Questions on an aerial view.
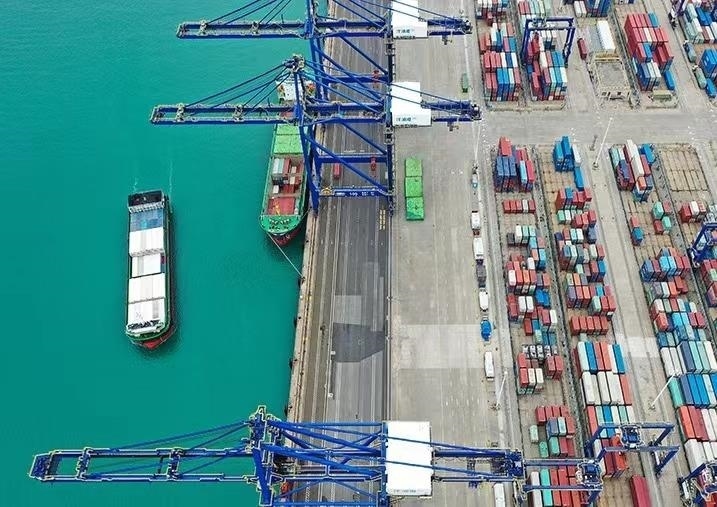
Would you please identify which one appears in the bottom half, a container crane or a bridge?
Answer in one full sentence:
It is a container crane that can be seen in the bottom half.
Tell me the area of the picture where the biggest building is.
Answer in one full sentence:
The biggest building is located in the top right region of the scene.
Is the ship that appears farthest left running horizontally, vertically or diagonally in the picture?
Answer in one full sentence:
The ship that appears farthest left is laid out vertically.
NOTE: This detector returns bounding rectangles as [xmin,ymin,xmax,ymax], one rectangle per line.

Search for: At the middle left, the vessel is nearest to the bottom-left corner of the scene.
[127,189,177,352]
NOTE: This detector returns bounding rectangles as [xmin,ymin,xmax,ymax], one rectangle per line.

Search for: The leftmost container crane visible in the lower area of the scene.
[20,409,521,507]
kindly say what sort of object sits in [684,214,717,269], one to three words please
container crane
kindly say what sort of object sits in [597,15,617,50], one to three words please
shed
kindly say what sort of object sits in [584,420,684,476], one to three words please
container crane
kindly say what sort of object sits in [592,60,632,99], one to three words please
building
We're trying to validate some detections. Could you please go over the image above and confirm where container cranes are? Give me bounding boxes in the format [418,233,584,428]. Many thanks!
[172,0,473,131]
[145,48,482,218]
[20,409,521,507]
[684,214,717,269]
[520,17,578,67]
[679,459,717,507]
[513,455,606,507]
[584,420,684,476]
